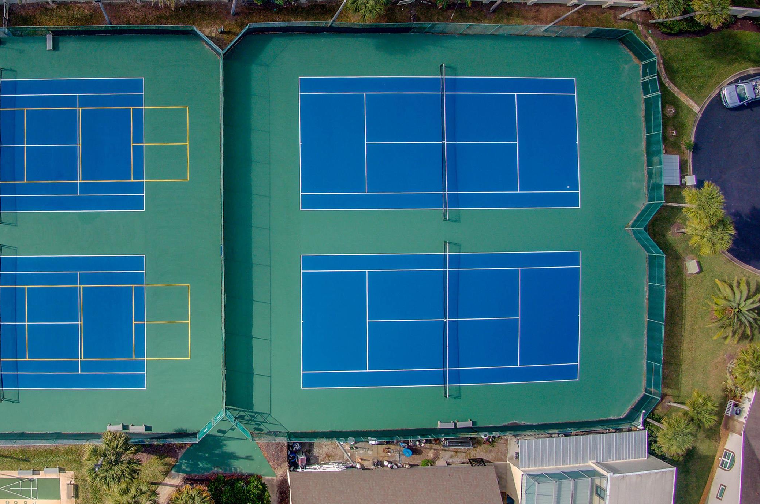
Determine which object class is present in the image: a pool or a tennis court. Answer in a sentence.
I can see a tennis court in this picture.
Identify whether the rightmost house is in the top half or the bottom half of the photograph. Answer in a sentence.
You can find the rightmost house in the bottom half.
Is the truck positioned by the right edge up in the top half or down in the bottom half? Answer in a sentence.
The top half of the photo is where the truck positioned by the right edge is.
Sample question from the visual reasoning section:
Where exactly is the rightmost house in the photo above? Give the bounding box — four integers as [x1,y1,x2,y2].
[708,393,760,504]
